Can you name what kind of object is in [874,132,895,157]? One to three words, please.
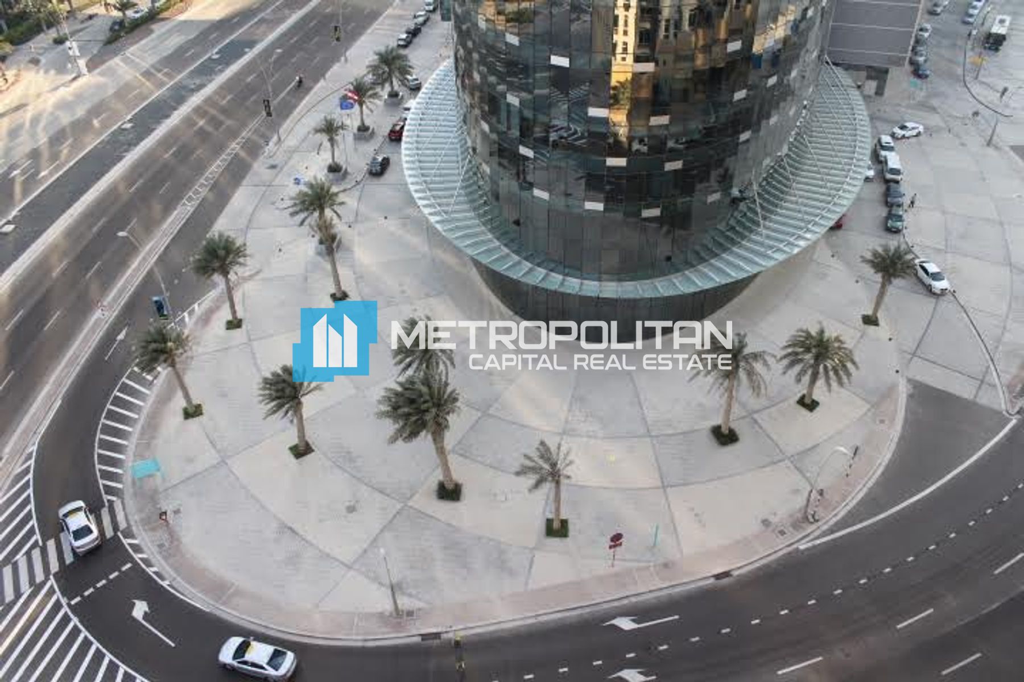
car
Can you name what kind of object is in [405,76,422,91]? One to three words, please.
car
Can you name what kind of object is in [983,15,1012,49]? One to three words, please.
bus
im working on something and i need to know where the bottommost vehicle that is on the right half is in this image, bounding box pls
[914,263,948,293]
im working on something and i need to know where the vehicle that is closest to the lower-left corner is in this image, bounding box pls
[59,502,99,553]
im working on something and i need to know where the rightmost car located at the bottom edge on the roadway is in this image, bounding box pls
[220,635,296,681]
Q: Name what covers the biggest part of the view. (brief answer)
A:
paved ground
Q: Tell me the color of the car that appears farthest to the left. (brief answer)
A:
white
